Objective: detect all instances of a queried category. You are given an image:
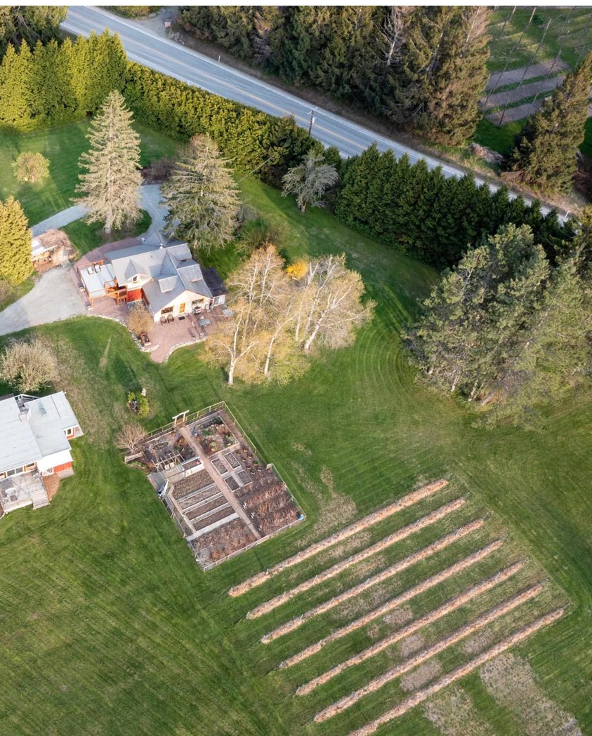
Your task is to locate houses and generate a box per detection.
[0,392,86,518]
[78,231,227,320]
